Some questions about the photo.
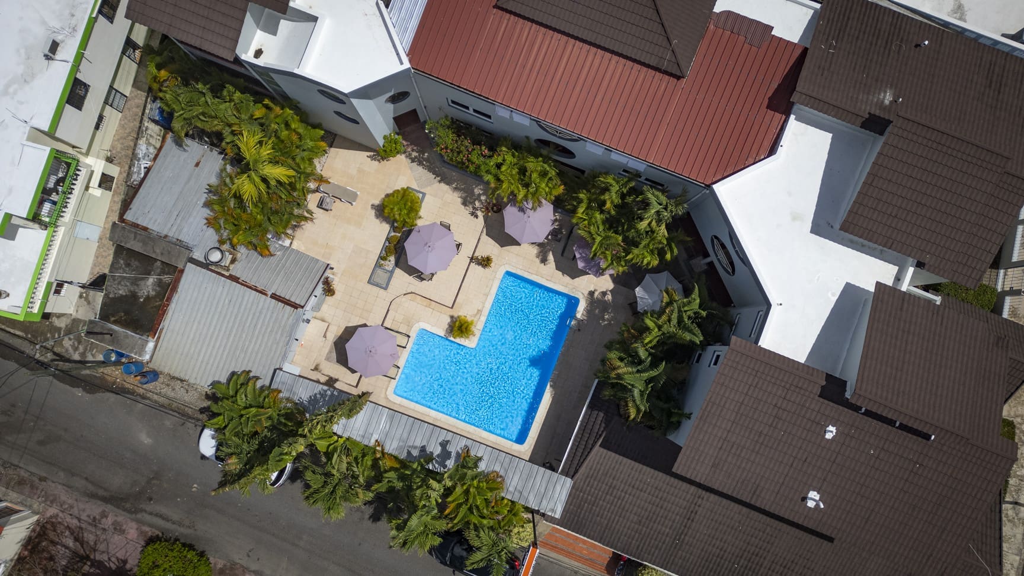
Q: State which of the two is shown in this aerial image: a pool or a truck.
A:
pool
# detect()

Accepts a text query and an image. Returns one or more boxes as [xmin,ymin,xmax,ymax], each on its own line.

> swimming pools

[386,263,587,452]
